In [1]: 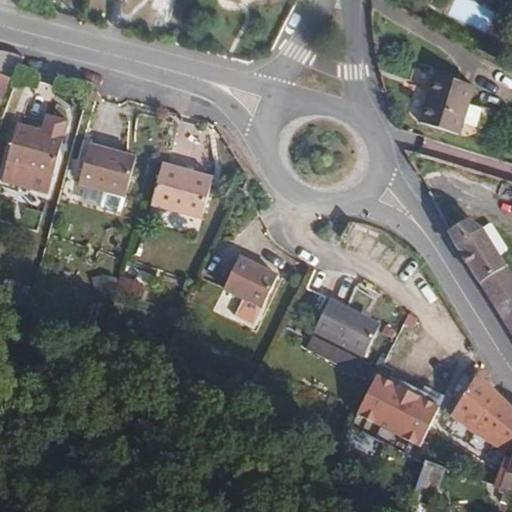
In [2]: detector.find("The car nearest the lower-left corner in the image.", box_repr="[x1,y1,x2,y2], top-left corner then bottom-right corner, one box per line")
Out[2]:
[206,253,222,274]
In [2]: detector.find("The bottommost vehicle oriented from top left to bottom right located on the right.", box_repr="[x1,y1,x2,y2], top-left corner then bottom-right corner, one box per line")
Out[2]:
[416,276,438,304]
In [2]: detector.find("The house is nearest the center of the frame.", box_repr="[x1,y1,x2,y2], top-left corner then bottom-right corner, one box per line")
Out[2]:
[224,254,278,308]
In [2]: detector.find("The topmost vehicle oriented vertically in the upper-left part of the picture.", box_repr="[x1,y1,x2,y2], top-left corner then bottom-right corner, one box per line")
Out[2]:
[32,96,44,118]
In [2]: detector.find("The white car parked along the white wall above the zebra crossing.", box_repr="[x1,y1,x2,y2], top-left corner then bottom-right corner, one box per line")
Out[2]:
[284,10,302,35]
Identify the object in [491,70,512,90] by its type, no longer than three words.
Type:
vehicle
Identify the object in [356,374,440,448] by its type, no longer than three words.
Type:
house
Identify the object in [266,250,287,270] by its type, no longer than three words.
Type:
car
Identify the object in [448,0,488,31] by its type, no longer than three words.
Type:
shed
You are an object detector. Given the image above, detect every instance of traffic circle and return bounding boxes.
[279,114,369,192]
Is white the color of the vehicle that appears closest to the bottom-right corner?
Yes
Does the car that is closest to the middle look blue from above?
No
